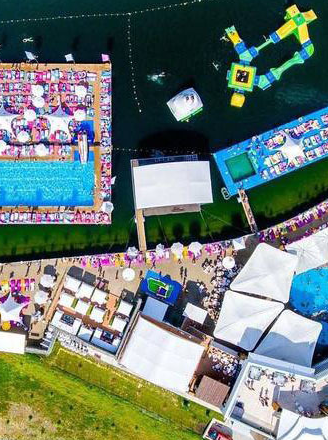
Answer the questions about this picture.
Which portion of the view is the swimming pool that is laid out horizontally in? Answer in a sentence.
You can find the swimming pool that is laid out horizontally in the left area of the picture.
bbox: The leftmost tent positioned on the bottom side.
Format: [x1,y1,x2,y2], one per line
[0,291,30,326]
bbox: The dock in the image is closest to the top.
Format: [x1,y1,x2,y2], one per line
[212,107,328,198]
